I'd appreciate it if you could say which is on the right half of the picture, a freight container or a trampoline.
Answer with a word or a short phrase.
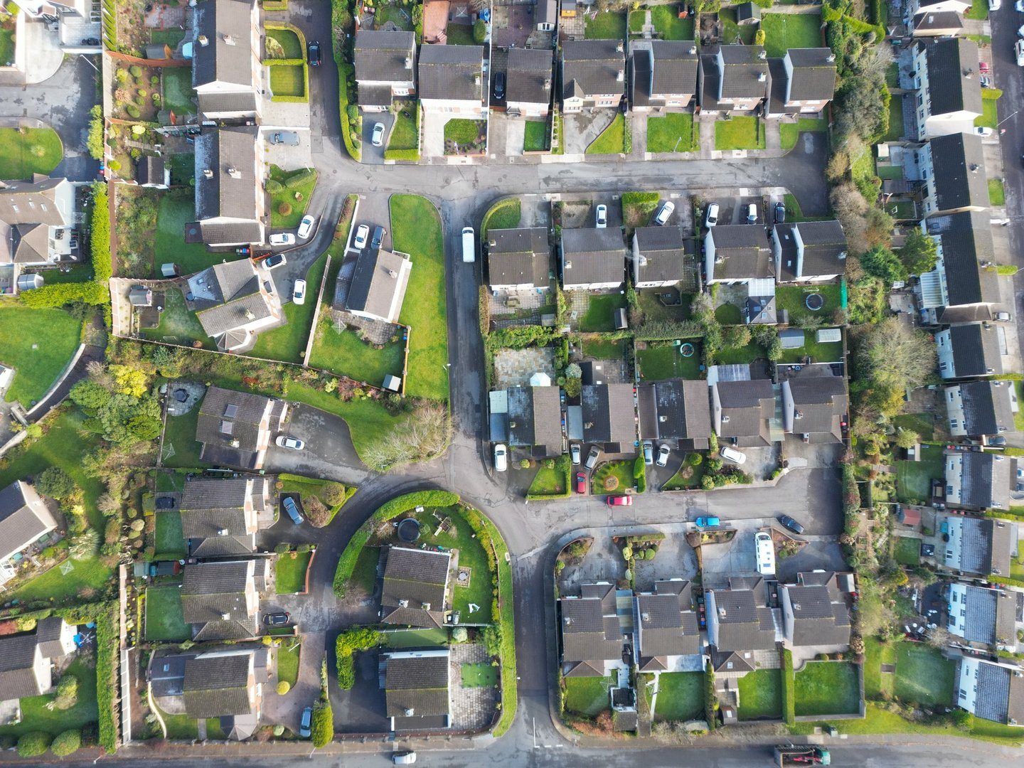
trampoline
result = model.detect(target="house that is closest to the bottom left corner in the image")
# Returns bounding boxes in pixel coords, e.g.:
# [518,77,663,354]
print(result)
[0,612,78,701]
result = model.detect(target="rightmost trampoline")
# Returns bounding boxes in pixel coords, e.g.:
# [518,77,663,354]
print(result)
[804,292,827,311]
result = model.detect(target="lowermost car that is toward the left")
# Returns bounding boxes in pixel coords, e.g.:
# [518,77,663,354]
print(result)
[393,750,415,764]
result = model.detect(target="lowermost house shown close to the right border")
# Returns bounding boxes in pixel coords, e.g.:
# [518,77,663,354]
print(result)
[960,654,1024,729]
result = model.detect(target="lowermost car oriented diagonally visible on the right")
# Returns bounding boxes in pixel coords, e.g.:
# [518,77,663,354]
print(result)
[780,514,804,535]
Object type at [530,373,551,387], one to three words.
gazebo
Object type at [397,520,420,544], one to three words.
trampoline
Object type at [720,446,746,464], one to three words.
car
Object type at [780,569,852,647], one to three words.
house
